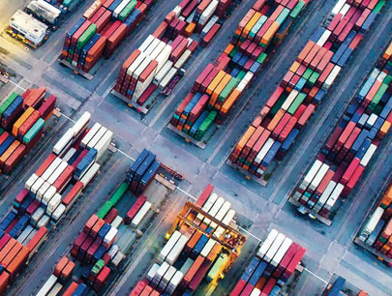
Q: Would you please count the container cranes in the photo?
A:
one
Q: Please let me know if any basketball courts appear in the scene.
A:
No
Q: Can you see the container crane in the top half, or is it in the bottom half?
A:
bottom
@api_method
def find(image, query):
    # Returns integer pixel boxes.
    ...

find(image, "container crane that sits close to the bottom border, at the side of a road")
[163,201,251,282]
